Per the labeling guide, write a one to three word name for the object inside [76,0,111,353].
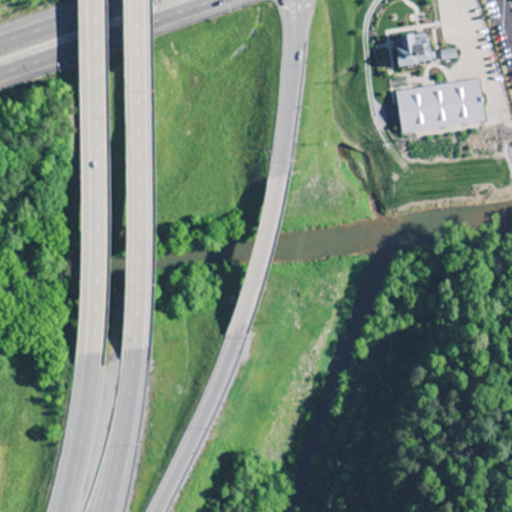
bridge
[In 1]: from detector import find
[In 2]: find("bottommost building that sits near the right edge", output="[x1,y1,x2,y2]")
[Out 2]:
[396,79,486,134]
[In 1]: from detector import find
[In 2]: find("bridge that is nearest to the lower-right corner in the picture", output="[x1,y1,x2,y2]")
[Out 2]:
[226,176,290,340]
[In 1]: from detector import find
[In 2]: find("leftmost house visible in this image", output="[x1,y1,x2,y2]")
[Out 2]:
[397,32,436,68]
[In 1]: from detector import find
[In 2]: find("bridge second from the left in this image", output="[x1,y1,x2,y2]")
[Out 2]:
[121,0,156,354]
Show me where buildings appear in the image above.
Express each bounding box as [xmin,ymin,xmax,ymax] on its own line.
[396,79,486,134]
[397,32,436,68]
[440,47,458,61]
